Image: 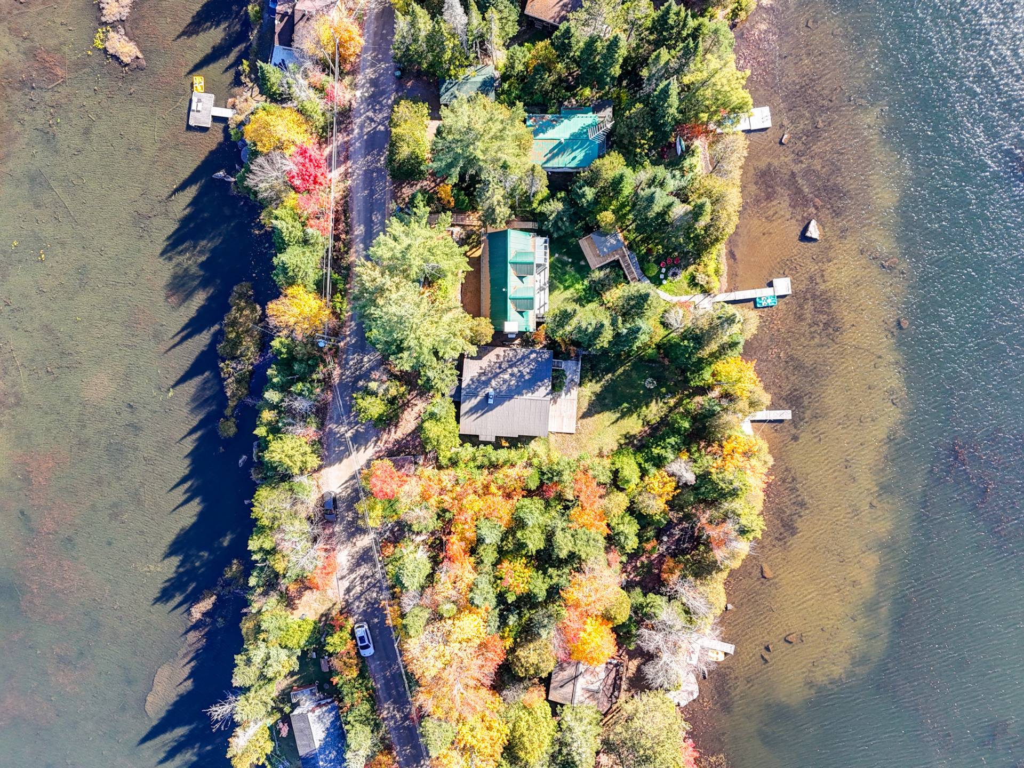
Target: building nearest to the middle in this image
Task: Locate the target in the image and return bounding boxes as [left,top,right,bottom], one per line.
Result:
[451,348,582,442]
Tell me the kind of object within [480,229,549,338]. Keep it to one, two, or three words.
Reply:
house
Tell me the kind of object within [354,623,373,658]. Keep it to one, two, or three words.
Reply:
car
